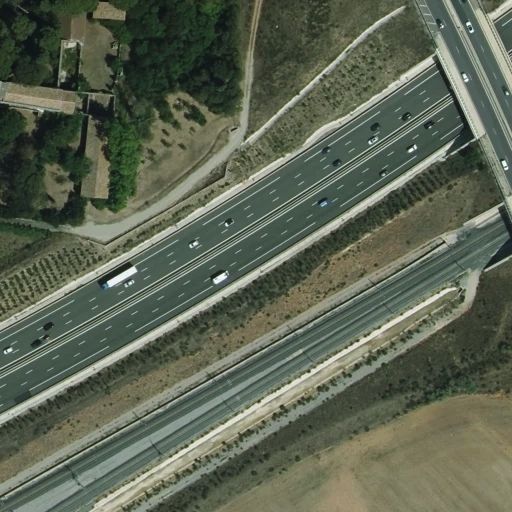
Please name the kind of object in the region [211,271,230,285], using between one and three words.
vehicle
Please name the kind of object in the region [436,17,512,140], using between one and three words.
bridge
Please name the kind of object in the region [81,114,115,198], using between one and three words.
house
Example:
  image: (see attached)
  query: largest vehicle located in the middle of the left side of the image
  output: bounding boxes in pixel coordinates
[100,266,136,291]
